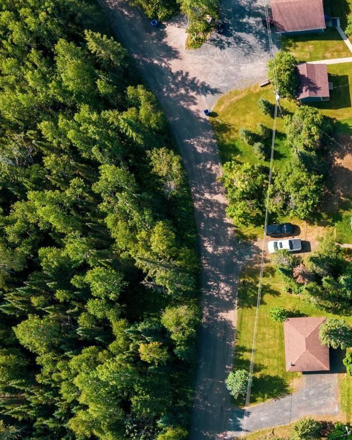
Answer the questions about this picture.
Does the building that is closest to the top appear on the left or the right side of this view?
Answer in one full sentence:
The building that is closest to the top is on the right side of the image.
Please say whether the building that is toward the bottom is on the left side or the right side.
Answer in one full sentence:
You can find the building that is toward the bottom on the right side of the picture.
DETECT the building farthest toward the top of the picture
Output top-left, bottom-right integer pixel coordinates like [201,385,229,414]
[272,0,326,38]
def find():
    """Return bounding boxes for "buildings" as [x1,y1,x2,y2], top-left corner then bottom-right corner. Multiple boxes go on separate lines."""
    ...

[272,0,326,38]
[297,61,334,102]
[283,316,329,371]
